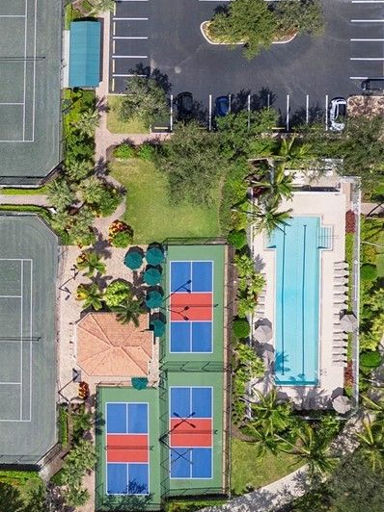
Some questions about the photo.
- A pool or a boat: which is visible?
pool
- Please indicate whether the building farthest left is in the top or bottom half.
top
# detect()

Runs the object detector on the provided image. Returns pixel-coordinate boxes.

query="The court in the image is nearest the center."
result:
[160,244,225,372]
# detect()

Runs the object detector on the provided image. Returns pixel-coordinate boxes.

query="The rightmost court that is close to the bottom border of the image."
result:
[161,372,225,498]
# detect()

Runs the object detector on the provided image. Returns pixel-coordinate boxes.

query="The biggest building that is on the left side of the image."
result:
[72,312,154,376]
